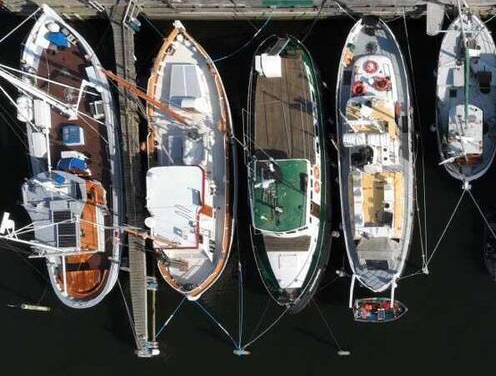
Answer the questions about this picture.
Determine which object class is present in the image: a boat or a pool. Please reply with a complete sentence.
There is a boat in the scene.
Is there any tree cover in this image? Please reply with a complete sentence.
No, no tree cover is visible.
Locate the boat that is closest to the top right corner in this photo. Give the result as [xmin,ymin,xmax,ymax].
[436,0,496,193]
